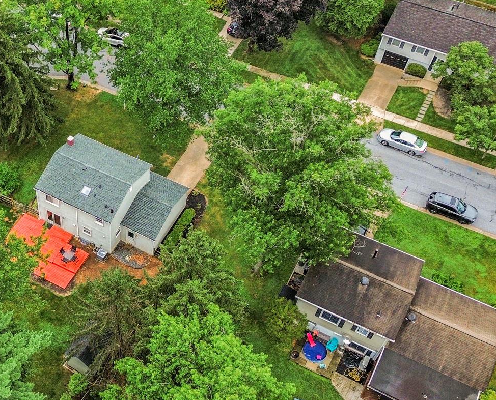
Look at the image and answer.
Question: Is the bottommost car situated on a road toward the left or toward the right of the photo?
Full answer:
The bottommost car situated on a road sits on the right side.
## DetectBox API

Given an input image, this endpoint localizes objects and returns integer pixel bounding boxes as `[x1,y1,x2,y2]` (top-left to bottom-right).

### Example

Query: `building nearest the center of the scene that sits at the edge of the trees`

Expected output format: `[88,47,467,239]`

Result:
[118,170,190,261]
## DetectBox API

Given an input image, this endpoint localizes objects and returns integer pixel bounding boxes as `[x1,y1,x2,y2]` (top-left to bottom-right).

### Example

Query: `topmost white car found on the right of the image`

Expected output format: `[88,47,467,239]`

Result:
[378,127,430,156]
